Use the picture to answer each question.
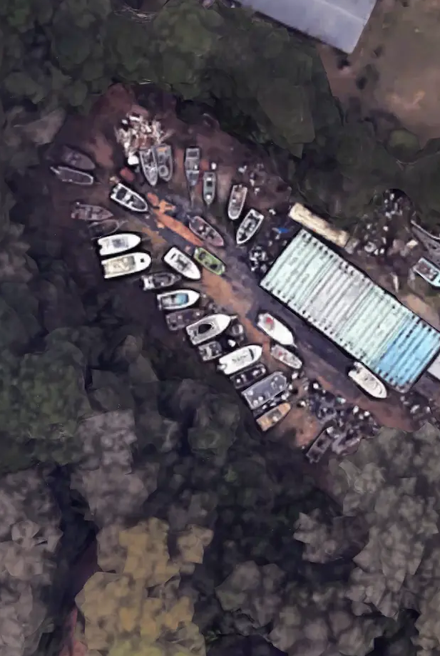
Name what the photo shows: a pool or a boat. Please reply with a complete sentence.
It is a boat that can be seen here.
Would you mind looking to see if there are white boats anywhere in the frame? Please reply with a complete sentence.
Yes, there's a white boat here.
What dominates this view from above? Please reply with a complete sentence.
The largest share of the image is taken up by trees.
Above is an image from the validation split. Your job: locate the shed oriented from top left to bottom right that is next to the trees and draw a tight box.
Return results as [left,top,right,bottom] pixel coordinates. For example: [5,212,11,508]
[260,229,440,390]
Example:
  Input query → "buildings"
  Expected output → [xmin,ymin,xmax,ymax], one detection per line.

[260,229,440,390]
[256,0,377,54]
